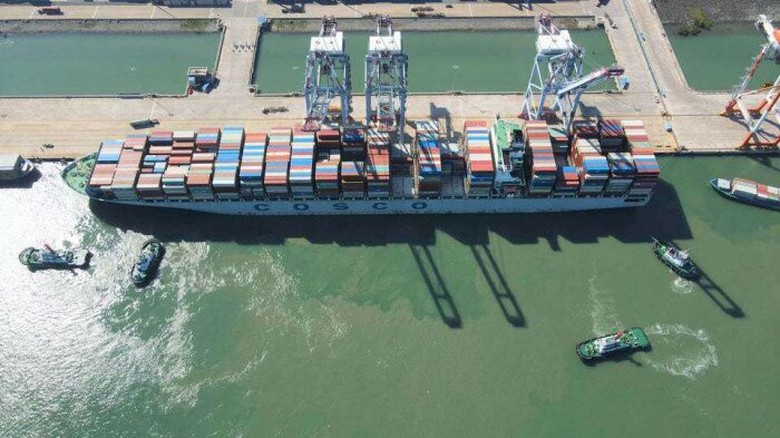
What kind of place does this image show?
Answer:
port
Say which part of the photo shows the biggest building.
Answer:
top left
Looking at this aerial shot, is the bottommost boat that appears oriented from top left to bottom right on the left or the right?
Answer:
right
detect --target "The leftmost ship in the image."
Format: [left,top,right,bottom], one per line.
[0,158,35,184]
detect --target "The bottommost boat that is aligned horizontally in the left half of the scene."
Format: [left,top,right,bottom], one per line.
[18,239,93,272]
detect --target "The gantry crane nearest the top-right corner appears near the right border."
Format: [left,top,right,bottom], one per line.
[724,14,780,148]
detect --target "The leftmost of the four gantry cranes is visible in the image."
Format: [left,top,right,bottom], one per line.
[305,16,353,137]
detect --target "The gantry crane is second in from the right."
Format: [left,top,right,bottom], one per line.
[513,14,617,133]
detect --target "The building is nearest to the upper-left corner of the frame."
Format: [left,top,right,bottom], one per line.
[181,64,206,86]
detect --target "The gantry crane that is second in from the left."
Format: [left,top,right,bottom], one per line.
[361,15,411,143]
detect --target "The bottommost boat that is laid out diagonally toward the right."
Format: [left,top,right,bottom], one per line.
[648,235,706,284]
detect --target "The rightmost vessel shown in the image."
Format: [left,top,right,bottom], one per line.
[709,176,780,213]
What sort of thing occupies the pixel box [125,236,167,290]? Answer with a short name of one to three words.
boat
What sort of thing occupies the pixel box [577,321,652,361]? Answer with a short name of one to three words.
boat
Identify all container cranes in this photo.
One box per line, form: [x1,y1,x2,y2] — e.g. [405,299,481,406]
[724,14,780,148]
[305,16,353,137]
[361,15,411,143]
[513,14,617,133]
